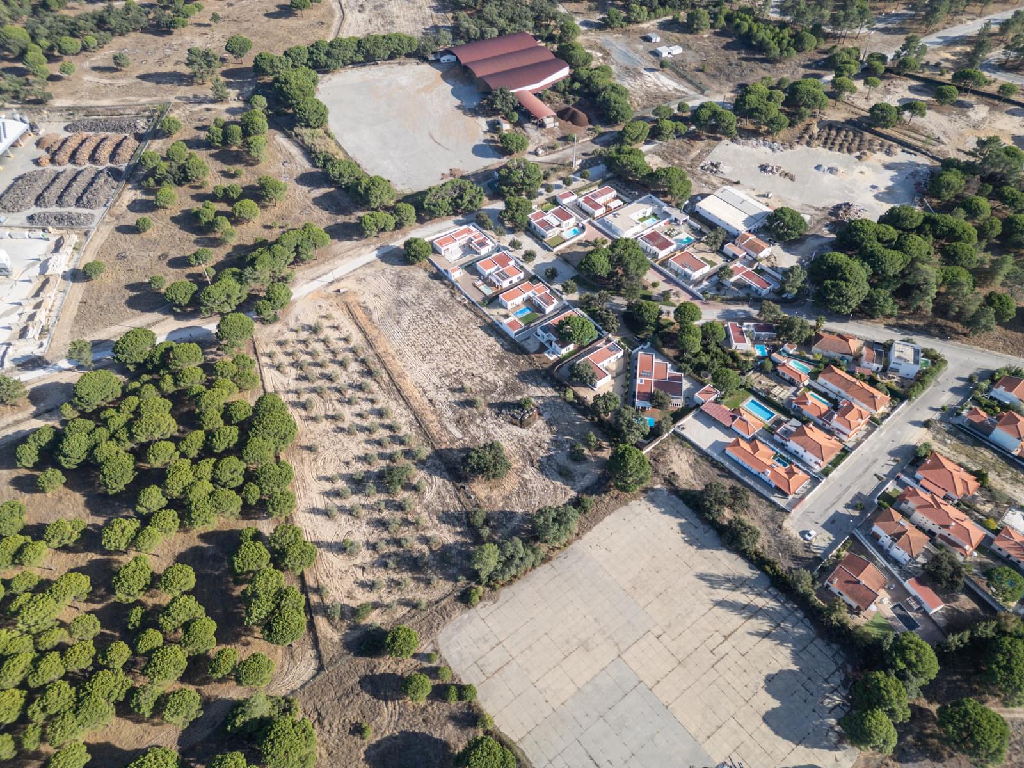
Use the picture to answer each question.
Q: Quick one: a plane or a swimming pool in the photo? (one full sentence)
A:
Of the two, only a swimming pool appears.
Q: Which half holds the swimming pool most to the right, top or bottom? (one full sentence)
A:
It is in the bottom half that the swimming pool most to the right appears.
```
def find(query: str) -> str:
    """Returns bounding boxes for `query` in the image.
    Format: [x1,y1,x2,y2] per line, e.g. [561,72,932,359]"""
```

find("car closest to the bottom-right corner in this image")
[803,529,817,542]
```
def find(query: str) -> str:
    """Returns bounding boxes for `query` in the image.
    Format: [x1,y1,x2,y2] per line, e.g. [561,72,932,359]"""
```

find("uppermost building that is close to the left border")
[0,118,35,169]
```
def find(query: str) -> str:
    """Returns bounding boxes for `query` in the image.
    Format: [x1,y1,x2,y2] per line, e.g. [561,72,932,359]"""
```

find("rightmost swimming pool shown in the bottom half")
[889,600,922,631]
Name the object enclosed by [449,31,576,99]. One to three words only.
barn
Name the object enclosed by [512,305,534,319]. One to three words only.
swimming pool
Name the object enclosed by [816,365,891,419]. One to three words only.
house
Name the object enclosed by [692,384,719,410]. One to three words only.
building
